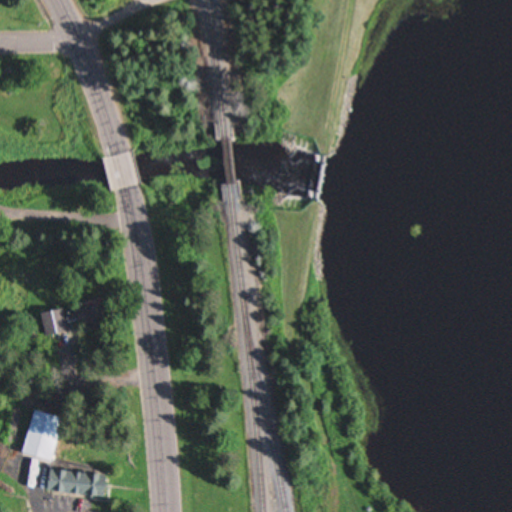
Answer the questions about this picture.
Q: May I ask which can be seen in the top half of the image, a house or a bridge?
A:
bridge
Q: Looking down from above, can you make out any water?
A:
Yes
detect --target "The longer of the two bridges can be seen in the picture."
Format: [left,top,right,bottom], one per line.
[212,119,244,206]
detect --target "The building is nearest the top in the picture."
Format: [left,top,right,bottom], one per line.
[40,310,64,336]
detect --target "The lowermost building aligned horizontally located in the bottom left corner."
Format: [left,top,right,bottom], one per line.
[46,467,110,498]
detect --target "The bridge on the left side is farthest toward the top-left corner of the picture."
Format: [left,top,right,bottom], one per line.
[103,151,138,191]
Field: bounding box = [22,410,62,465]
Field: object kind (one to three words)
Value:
barn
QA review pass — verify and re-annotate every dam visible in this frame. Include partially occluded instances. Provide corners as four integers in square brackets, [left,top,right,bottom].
[290,144,326,206]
